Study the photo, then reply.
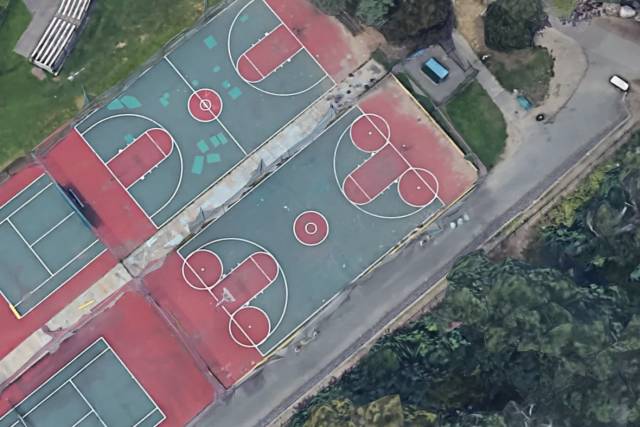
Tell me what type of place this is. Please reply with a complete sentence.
It's a sports ground.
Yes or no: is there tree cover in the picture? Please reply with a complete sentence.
Yes, tree cover shows up in the scene.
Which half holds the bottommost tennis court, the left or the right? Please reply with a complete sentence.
You can find the bottommost tennis court on the left side of the picture.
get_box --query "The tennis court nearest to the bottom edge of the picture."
[0,279,226,427]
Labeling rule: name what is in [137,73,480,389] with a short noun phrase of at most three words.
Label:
basketball court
